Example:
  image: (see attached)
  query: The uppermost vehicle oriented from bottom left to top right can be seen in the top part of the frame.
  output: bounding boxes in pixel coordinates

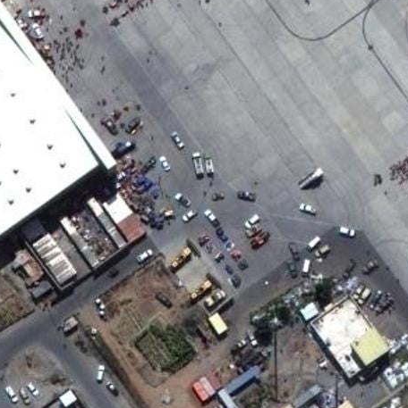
[125,117,141,135]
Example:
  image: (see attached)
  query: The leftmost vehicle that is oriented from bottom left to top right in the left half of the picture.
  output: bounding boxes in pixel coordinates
[61,319,80,334]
